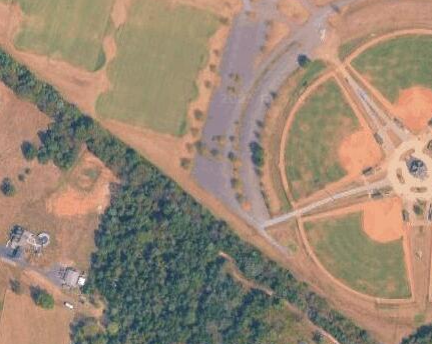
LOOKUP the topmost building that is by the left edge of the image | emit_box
[9,230,39,255]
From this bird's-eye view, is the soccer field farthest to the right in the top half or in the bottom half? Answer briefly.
top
